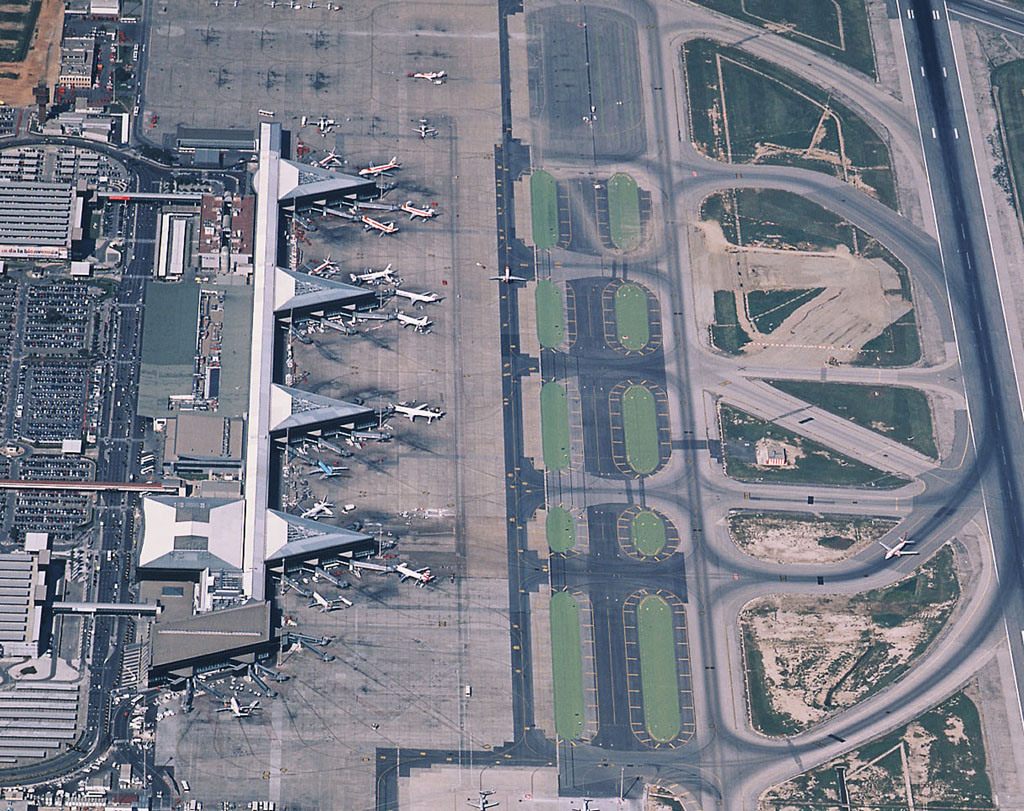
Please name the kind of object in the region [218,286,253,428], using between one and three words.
building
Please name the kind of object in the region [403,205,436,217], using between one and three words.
airplane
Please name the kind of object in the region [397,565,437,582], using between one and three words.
airplane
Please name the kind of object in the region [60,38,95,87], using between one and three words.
building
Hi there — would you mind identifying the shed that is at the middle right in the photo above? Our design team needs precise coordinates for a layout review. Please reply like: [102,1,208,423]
[760,446,784,464]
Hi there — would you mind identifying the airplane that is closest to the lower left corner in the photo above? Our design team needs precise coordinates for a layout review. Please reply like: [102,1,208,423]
[221,699,256,716]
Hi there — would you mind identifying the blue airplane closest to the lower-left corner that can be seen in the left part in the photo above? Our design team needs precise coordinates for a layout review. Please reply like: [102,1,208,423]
[316,462,344,476]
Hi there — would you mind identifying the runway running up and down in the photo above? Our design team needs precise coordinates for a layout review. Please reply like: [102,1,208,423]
[897,0,1024,731]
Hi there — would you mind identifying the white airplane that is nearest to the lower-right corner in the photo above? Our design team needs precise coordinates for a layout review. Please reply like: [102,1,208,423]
[883,532,919,559]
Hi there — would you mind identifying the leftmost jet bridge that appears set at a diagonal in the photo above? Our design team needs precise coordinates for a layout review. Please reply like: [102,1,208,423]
[193,676,229,700]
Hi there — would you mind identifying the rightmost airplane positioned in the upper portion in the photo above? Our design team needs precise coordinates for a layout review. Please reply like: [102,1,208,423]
[491,267,524,283]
